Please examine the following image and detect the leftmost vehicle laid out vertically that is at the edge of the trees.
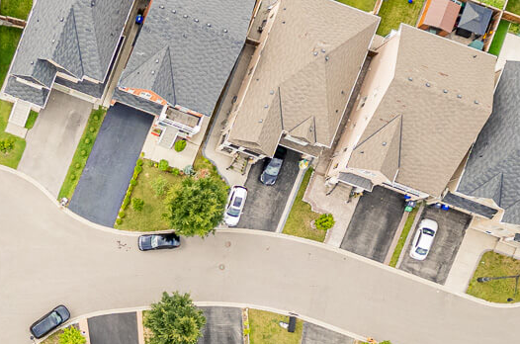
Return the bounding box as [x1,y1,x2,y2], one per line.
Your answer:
[224,184,248,227]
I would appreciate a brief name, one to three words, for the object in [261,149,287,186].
car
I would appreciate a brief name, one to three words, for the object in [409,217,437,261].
car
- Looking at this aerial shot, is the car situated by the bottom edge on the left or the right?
left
